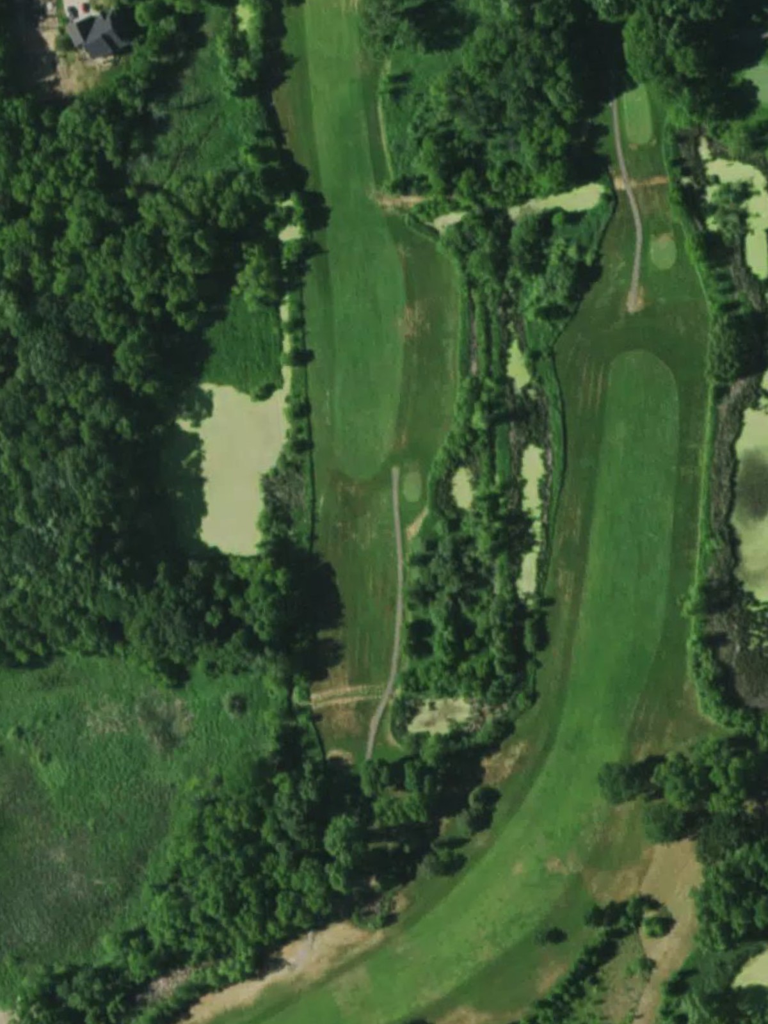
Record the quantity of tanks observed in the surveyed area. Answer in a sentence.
The photo contains no tanks.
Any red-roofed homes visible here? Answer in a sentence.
No, there isn't any red-roofed home down there.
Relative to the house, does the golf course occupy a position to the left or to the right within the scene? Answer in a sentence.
The golf course can be seen on the right of the house.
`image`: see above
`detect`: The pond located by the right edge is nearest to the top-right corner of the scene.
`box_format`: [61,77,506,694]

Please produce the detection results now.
[699,135,768,279]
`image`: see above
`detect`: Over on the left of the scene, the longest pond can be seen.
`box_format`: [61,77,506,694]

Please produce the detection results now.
[170,276,292,558]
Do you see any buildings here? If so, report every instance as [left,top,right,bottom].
[67,17,126,58]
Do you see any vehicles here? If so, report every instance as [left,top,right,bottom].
[81,3,86,13]
[69,5,76,16]
[47,1,52,11]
